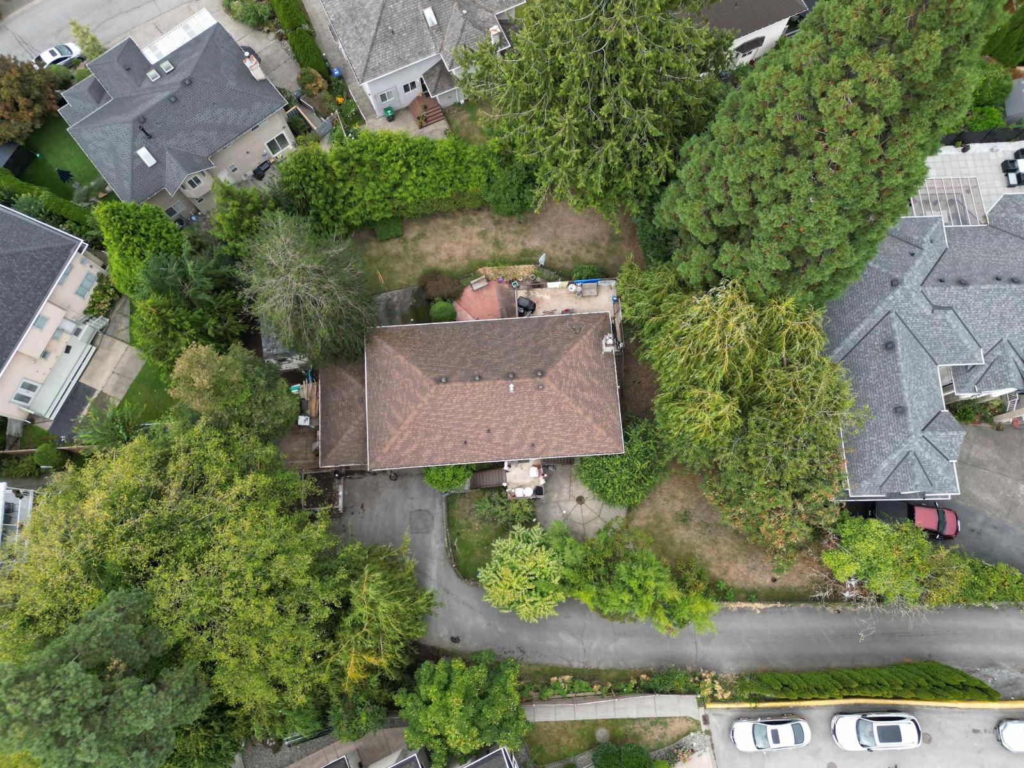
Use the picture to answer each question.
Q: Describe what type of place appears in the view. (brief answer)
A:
residential area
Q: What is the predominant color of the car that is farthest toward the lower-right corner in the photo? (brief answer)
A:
white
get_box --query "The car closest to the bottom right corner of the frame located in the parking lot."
[988,713,1024,753]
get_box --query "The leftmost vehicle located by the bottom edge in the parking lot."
[727,712,811,754]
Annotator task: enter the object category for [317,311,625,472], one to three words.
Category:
house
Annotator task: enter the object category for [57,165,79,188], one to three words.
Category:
umbrella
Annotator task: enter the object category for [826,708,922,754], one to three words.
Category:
car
